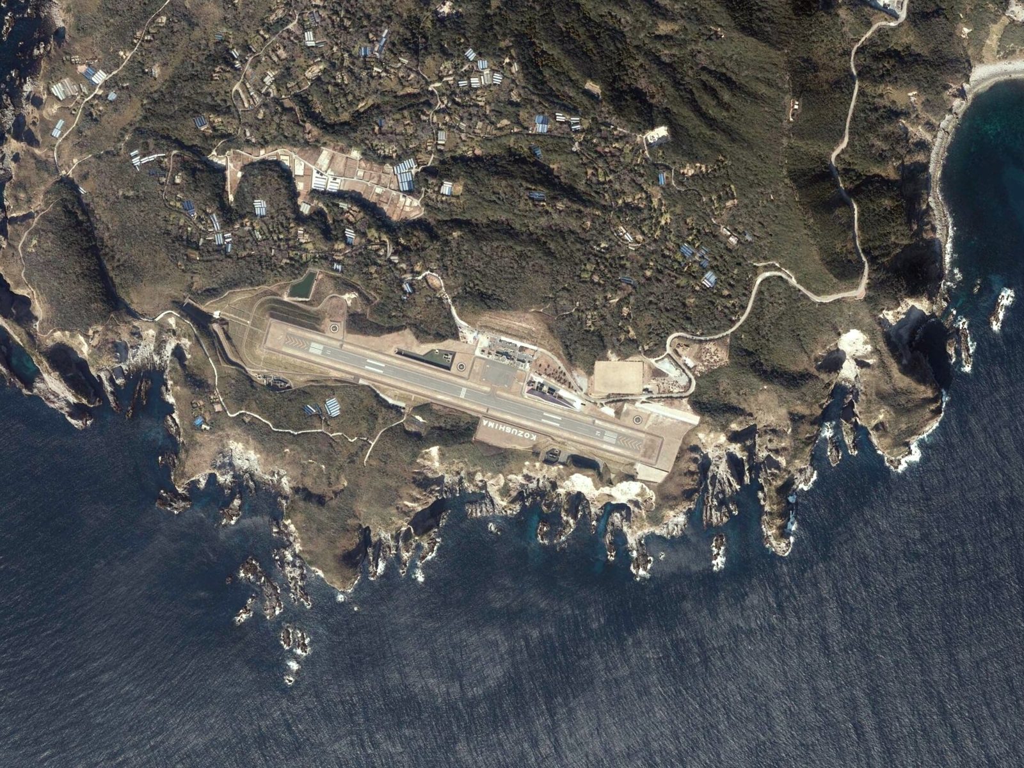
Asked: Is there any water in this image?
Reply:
Yes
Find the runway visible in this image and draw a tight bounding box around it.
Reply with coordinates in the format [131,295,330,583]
[284,332,642,453]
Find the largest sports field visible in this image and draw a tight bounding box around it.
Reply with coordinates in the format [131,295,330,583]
[595,361,643,394]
